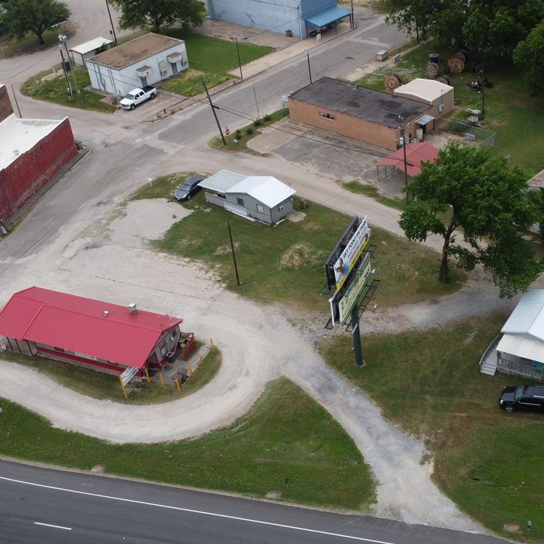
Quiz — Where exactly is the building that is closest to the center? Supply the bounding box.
[198,170,295,223]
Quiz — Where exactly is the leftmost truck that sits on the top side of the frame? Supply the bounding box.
[119,86,159,109]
